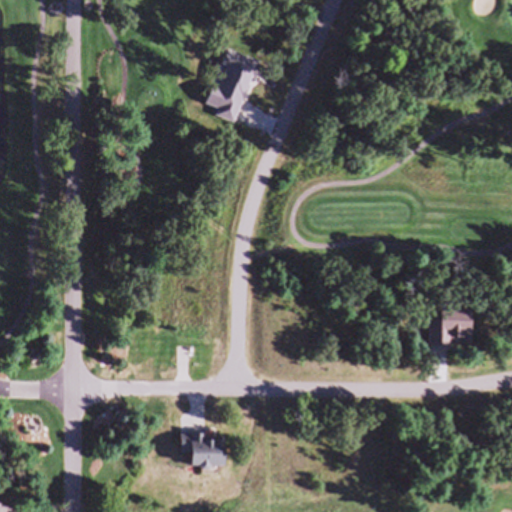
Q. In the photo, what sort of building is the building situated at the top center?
residential house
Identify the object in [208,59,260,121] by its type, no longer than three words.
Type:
house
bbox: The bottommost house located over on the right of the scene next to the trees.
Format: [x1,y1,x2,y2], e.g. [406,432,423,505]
[442,311,475,345]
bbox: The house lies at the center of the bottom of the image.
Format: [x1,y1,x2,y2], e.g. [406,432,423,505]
[181,432,226,470]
